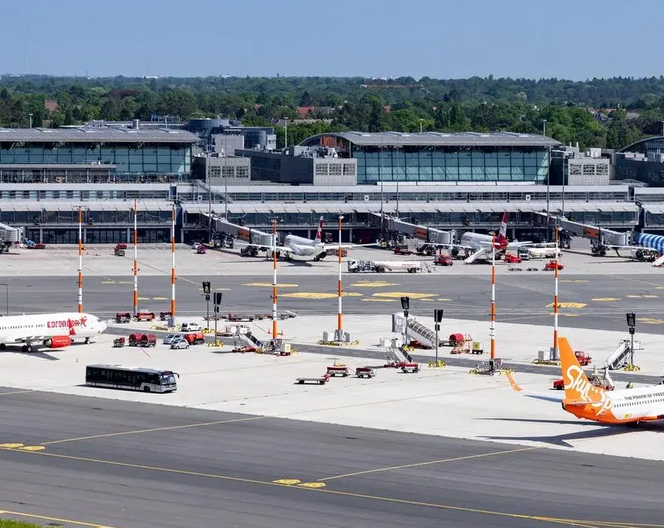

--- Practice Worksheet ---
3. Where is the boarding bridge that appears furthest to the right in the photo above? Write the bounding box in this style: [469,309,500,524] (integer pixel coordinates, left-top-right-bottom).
[528,209,643,252]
